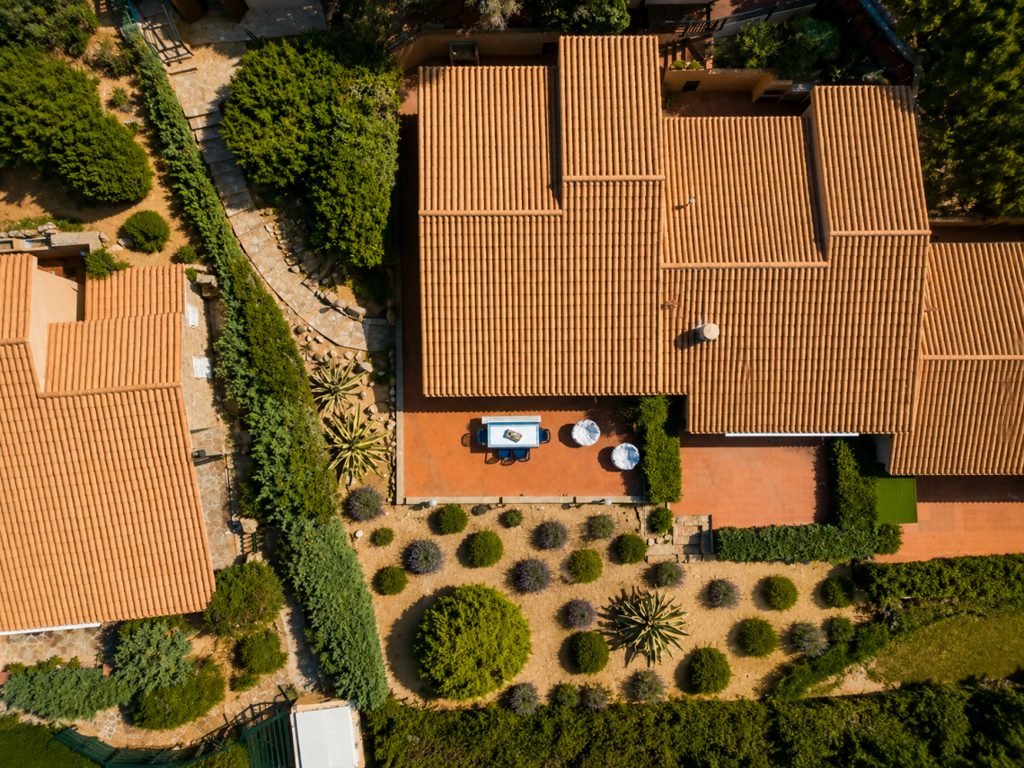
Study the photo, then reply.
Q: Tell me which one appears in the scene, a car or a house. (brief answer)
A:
house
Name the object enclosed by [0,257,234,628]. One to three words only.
house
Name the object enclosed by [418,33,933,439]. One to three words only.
house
